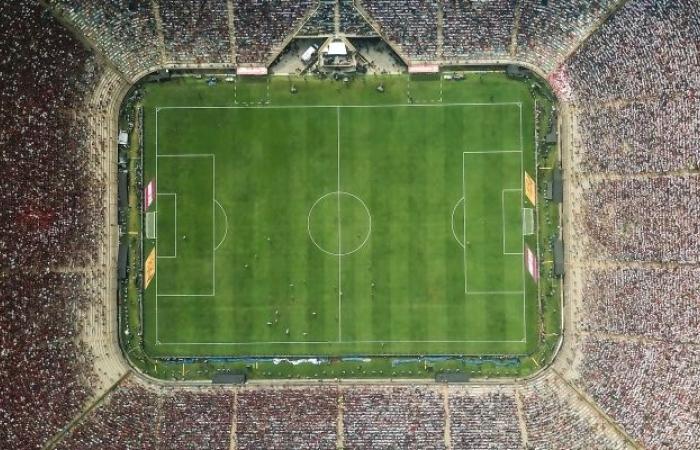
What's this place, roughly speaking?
sports ground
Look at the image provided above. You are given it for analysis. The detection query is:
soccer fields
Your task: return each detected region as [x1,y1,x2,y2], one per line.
[153,77,528,350]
